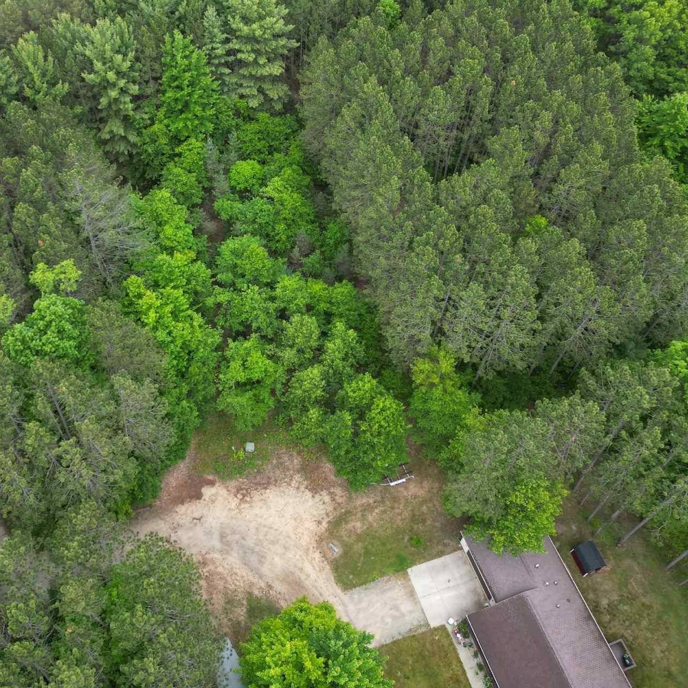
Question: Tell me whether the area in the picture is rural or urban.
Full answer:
The land in this view is best described as rural.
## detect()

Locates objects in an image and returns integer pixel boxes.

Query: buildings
[459,514,633,688]
[567,541,607,579]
